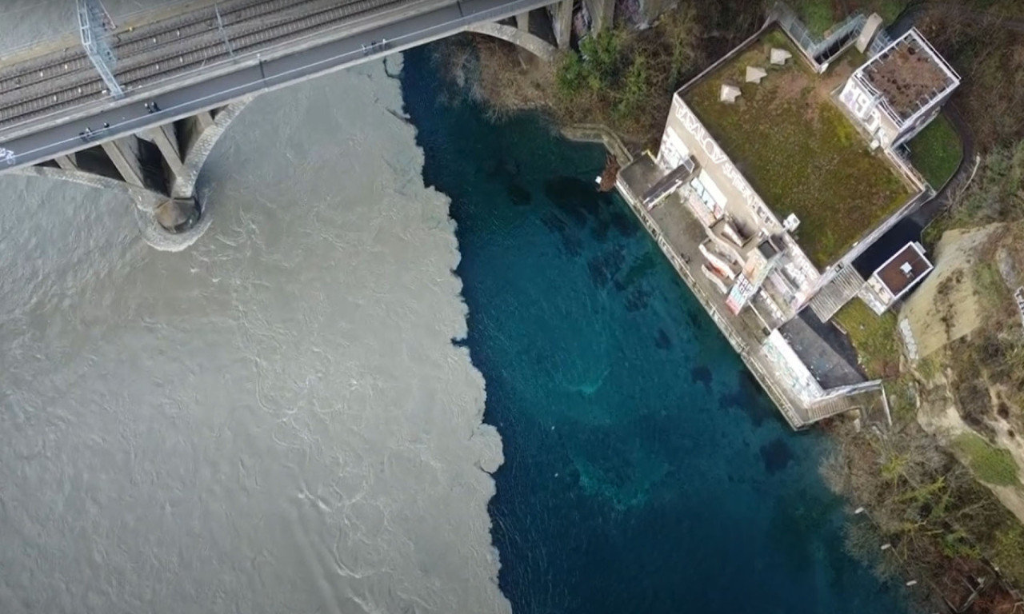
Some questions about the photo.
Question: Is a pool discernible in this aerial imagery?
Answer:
No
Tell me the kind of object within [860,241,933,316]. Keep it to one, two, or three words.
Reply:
shed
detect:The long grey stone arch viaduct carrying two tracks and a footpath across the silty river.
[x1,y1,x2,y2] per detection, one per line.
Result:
[0,0,659,231]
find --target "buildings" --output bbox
[658,24,931,350]
[860,241,933,316]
